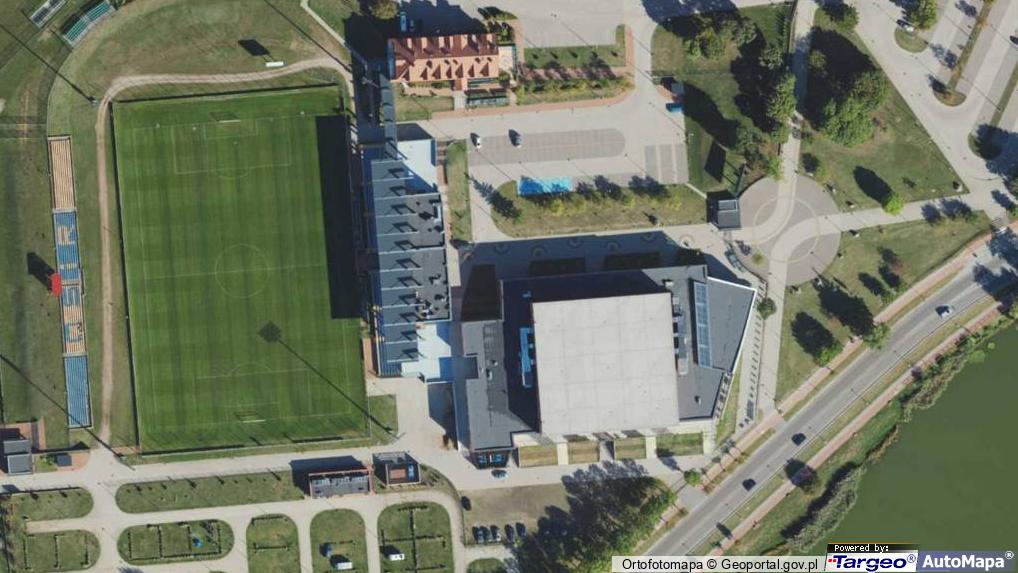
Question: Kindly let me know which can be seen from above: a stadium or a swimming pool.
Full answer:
There is a stadium in the scene.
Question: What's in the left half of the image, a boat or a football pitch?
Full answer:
It is a football pitch that can be seen in the left half of the image.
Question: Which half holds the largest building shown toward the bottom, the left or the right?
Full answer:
The largest building shown toward the bottom sits on the left side.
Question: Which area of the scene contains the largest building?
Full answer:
You can find the largest building in the top area of the picture.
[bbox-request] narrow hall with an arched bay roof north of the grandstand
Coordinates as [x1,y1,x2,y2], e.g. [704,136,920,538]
[376,70,398,155]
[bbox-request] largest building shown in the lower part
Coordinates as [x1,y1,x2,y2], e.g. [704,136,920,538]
[307,466,377,498]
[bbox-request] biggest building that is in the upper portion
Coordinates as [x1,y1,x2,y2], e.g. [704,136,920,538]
[391,33,498,90]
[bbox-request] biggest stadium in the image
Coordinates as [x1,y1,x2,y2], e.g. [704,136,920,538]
[454,264,758,468]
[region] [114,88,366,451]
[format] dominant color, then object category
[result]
green soccer field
